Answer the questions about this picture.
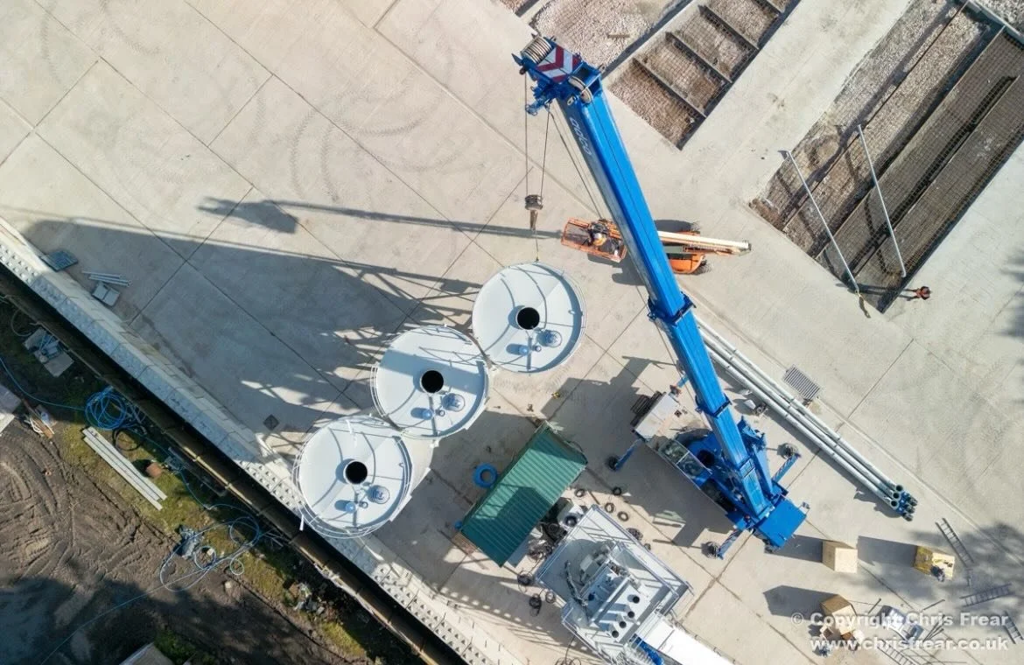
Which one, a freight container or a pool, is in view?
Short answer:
freight container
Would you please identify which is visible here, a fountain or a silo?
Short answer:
silo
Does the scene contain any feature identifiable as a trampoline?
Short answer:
No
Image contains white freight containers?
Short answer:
No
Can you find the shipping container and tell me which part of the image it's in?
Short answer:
bottom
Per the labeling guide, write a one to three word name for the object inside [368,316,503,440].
silo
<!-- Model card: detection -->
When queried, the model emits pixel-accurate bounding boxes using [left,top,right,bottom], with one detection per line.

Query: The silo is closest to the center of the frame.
[471,248,586,378]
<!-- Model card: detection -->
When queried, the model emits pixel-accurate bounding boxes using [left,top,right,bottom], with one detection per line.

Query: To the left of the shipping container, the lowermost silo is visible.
[287,407,449,536]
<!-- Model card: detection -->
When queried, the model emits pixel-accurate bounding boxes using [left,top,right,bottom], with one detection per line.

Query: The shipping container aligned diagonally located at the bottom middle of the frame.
[456,421,592,571]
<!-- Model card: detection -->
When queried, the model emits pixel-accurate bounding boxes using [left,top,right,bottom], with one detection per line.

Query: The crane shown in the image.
[511,33,816,556]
